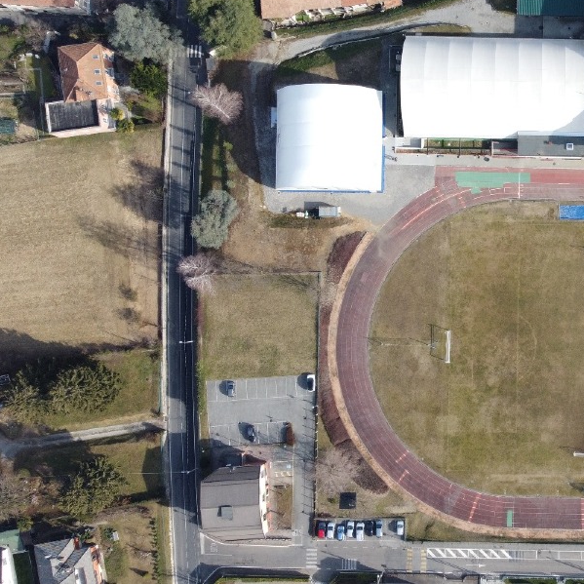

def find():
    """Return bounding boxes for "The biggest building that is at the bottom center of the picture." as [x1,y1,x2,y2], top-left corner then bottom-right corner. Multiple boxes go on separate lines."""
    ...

[200,463,271,542]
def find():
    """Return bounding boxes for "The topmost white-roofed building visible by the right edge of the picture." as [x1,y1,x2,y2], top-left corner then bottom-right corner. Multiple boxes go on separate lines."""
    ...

[400,40,584,141]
